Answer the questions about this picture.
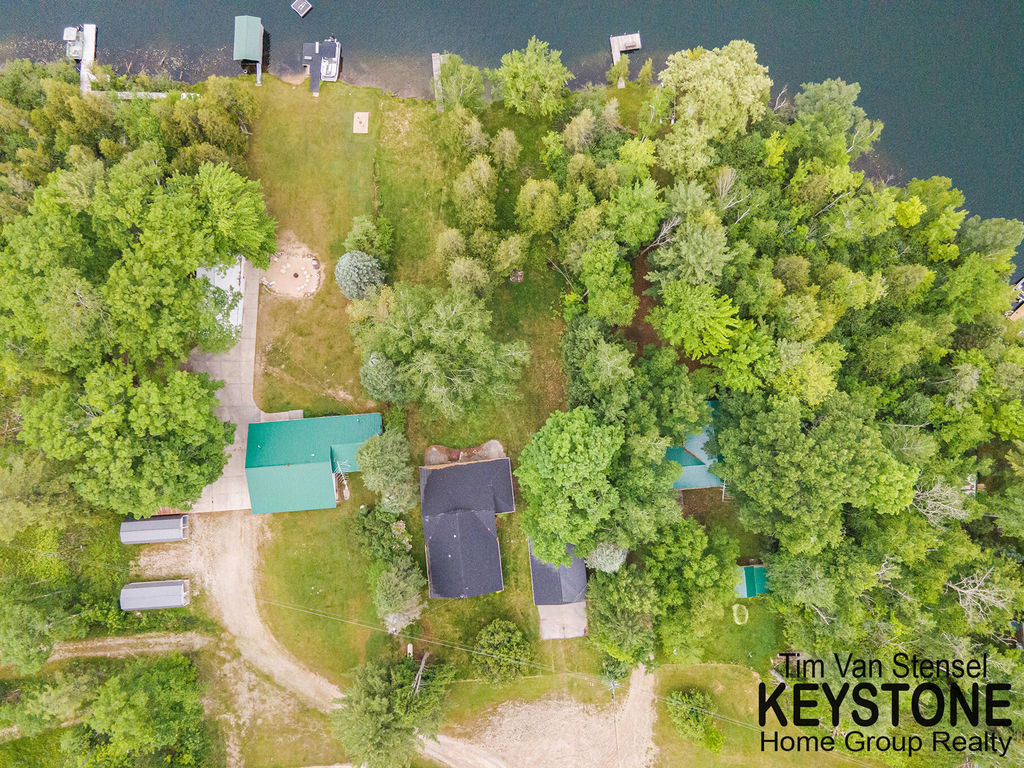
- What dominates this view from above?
trees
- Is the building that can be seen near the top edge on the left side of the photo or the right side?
left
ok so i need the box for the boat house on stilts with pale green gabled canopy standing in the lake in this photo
[233,15,269,71]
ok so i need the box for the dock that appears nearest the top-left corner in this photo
[79,24,99,93]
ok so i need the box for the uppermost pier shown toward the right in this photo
[610,31,641,54]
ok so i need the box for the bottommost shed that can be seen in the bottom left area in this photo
[119,575,195,609]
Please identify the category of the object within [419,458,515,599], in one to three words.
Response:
house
